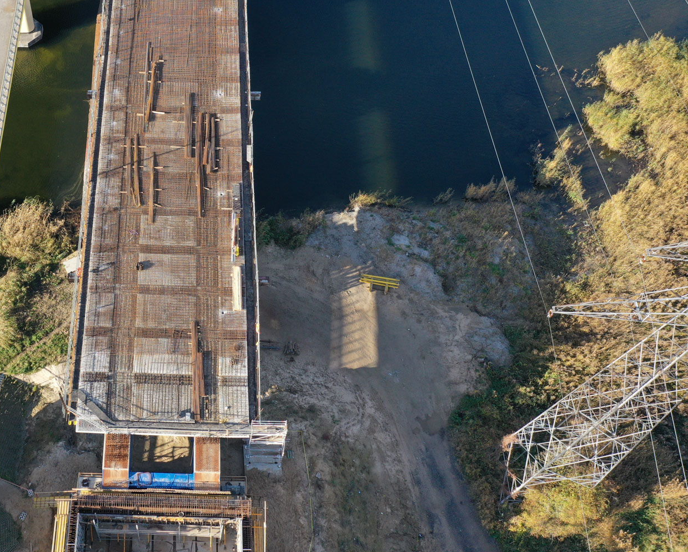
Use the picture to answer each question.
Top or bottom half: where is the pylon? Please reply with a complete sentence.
You can find the pylon in the bottom half.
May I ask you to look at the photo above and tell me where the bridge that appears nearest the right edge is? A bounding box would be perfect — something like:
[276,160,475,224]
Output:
[60,0,262,499]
